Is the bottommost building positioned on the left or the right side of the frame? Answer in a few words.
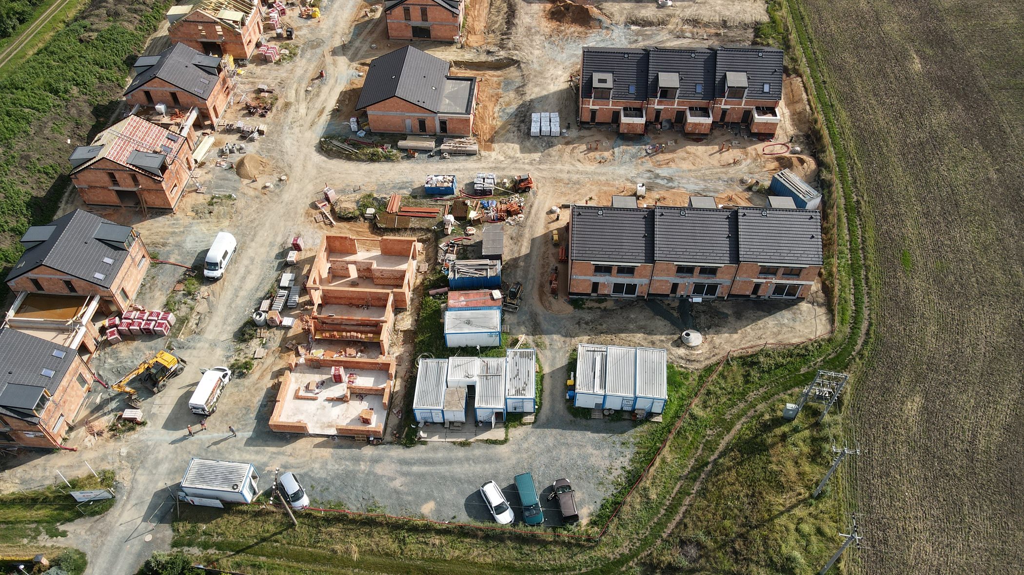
left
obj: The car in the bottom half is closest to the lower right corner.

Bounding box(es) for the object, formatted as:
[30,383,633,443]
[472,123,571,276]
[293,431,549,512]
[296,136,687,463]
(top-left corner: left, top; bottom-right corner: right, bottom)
[545,477,581,526]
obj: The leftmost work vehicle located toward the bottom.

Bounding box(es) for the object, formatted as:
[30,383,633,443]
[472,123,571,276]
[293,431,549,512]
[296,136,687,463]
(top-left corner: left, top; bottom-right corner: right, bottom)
[112,353,187,411]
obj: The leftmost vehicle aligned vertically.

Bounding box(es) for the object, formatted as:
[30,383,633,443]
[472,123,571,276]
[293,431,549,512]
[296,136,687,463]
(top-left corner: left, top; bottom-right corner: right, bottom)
[203,231,233,281]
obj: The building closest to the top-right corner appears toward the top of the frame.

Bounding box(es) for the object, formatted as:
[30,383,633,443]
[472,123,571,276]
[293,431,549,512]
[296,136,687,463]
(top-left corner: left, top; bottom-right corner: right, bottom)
[709,41,787,135]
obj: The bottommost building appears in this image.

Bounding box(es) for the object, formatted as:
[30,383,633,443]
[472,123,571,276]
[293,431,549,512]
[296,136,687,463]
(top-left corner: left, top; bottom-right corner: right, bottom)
[180,458,266,506]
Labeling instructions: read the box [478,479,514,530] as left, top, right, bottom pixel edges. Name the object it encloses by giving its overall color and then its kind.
white car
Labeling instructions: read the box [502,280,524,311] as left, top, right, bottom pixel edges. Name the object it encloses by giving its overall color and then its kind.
black work vehicle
